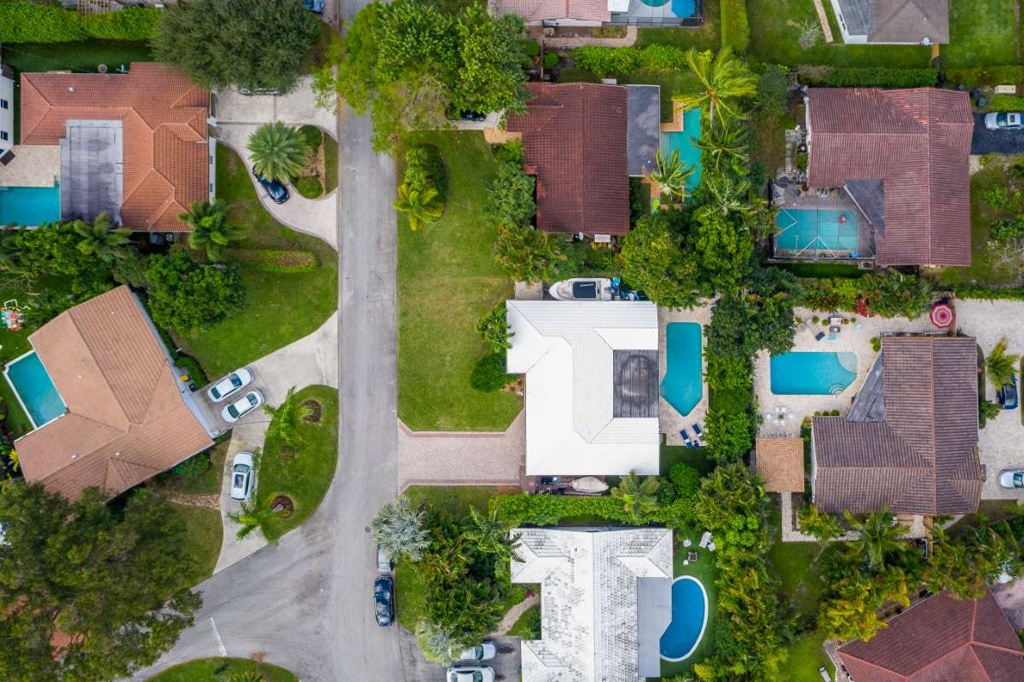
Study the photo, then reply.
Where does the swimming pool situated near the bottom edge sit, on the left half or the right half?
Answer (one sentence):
You can find the swimming pool situated near the bottom edge on the right side of the picture.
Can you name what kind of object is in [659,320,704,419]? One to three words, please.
swimming pool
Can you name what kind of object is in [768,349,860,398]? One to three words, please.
swimming pool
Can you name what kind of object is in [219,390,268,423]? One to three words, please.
car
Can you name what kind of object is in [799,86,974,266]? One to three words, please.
house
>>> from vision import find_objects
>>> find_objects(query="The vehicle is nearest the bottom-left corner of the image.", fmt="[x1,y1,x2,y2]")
[229,451,255,500]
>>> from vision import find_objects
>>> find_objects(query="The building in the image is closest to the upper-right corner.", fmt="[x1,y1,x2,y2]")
[833,0,950,48]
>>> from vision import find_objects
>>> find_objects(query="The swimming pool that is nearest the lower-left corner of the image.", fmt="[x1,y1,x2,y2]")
[3,350,66,428]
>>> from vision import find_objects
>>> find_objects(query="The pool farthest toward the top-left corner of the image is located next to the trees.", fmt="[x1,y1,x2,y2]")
[0,179,59,227]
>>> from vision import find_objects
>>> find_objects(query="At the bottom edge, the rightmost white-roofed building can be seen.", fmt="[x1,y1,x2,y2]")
[509,526,673,682]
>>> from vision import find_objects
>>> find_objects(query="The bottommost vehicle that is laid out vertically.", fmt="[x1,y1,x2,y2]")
[372,575,395,627]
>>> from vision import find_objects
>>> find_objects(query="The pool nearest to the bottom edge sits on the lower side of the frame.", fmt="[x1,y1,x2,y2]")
[660,574,710,663]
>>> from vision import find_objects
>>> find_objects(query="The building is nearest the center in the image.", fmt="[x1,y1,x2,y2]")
[505,299,660,477]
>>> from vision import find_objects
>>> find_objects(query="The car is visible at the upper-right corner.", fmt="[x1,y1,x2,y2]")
[981,109,1024,133]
